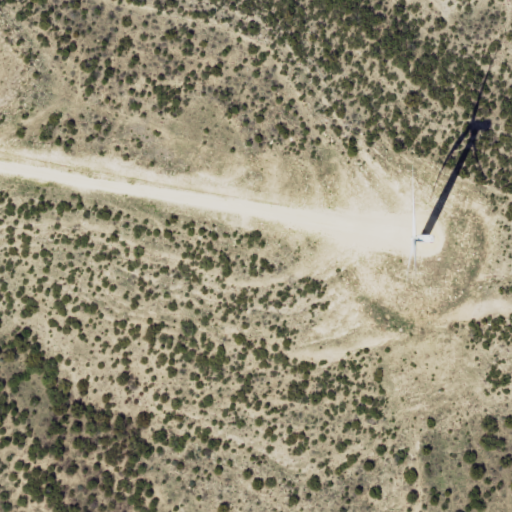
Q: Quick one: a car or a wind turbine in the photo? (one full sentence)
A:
The image shows a wind turbine.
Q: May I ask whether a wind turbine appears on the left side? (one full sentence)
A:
No, no wind turbine can be made out on the left side.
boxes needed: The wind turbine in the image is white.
[402,170,435,299]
